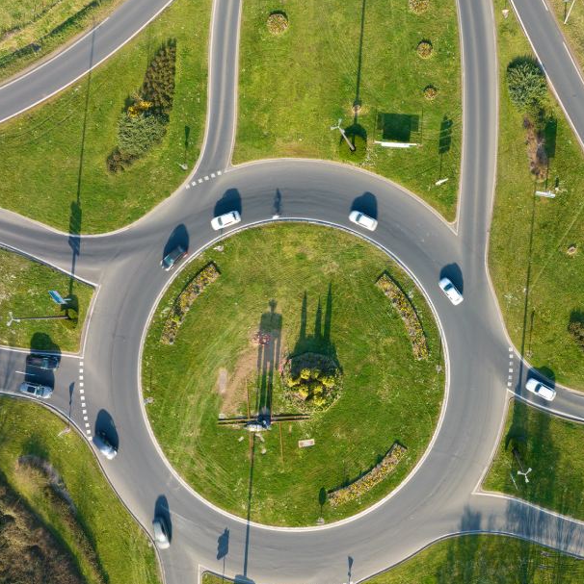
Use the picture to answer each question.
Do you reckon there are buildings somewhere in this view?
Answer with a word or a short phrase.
No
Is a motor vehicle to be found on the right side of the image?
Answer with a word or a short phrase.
Yes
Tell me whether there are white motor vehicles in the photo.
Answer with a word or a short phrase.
Yes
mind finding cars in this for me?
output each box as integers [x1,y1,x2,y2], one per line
[213,211,240,230]
[19,380,53,398]
[440,278,465,306]
[161,246,189,270]
[350,211,378,232]
[92,434,118,460]
[29,354,58,369]
[153,519,171,547]
[527,379,555,401]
